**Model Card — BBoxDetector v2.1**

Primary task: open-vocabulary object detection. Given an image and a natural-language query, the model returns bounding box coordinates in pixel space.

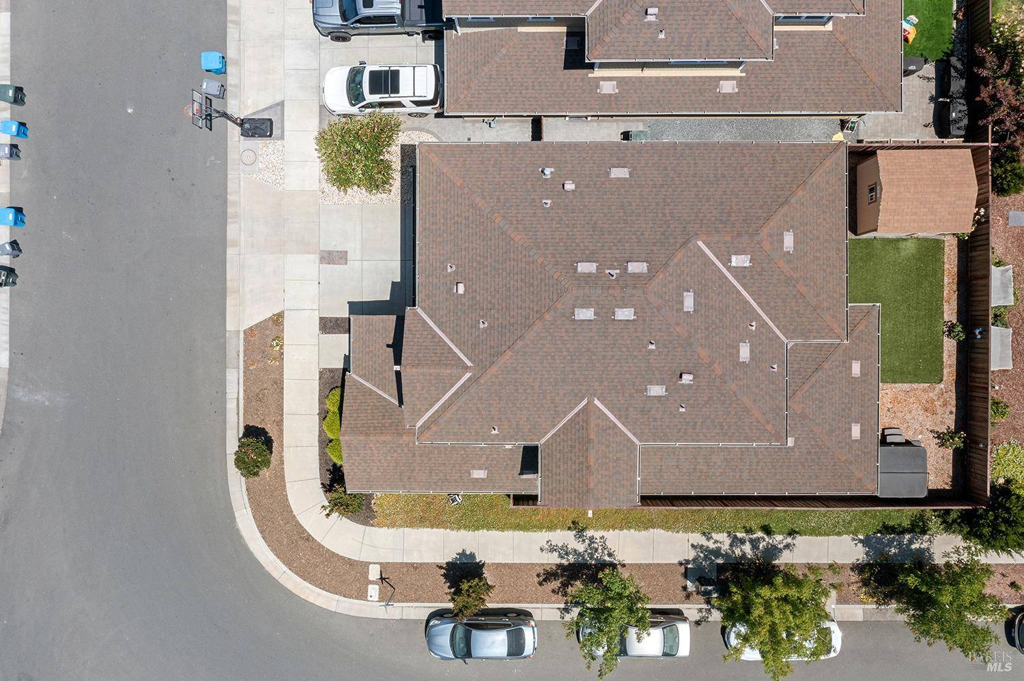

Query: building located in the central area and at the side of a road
[343,140,880,519]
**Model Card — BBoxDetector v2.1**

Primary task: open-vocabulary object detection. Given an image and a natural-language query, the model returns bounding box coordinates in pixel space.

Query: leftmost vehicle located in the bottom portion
[426,614,538,668]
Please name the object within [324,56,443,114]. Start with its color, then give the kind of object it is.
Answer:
white car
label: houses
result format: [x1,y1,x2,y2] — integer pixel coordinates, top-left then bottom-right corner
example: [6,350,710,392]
[444,0,903,121]
[343,140,880,519]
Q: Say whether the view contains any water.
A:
No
